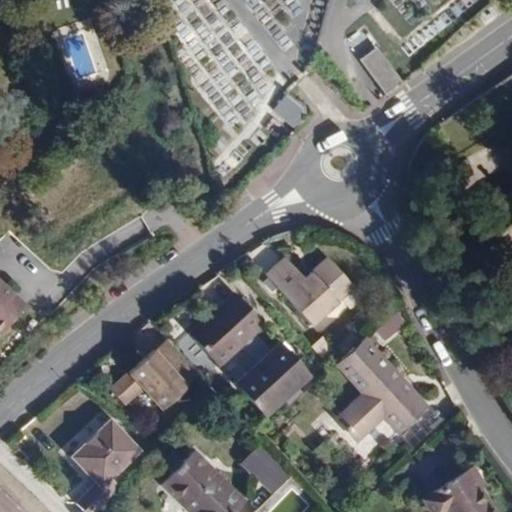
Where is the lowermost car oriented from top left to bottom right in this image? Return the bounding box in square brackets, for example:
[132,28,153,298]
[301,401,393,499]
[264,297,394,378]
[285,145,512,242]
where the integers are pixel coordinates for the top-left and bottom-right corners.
[34,428,54,448]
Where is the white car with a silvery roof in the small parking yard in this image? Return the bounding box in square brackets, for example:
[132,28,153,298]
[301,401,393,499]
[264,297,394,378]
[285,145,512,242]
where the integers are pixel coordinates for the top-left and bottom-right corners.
[20,255,40,274]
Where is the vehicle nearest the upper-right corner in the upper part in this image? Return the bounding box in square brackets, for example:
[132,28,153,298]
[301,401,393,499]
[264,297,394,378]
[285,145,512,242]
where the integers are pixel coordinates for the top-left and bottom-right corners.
[384,99,410,118]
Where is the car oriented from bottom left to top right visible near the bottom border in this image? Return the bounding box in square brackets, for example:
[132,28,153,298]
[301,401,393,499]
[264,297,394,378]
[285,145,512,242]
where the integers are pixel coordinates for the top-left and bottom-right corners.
[250,488,270,506]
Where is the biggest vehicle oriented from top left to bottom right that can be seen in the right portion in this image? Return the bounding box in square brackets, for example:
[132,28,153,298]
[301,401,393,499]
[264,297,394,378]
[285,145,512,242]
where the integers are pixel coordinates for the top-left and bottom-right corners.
[432,340,454,367]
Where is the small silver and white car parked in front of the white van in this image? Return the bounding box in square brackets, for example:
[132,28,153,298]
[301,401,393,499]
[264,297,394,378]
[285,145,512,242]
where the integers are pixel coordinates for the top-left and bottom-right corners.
[415,310,433,332]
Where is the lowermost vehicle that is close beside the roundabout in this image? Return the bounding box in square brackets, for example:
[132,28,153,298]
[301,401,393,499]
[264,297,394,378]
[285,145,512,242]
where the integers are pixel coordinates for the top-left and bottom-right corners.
[318,130,350,154]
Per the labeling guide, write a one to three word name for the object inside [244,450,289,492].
shed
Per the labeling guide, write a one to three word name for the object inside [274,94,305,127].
building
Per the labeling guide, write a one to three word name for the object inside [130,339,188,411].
house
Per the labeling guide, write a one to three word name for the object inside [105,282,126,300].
car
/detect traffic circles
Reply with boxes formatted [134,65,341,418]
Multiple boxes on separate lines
[321,146,358,182]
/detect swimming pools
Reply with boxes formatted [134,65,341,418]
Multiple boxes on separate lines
[62,29,109,82]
